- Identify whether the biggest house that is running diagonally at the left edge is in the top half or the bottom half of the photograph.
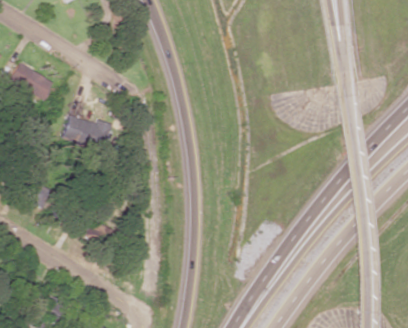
top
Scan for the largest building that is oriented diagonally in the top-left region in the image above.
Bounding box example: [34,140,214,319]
[10,62,53,98]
